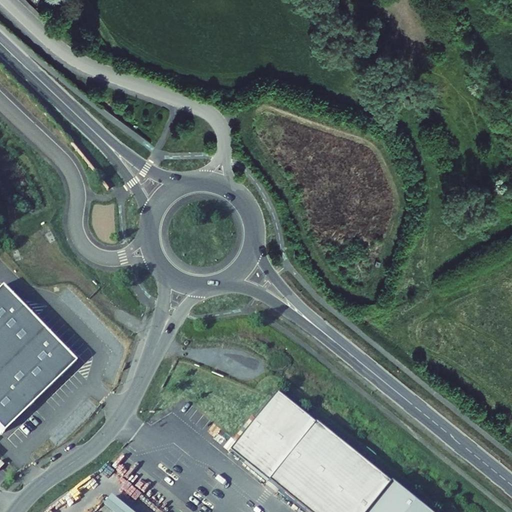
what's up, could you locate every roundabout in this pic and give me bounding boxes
[134,165,268,314]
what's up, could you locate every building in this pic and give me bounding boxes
[100,492,135,512]
[0,283,79,436]
[232,390,435,512]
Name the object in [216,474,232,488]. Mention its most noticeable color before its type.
white vehicle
